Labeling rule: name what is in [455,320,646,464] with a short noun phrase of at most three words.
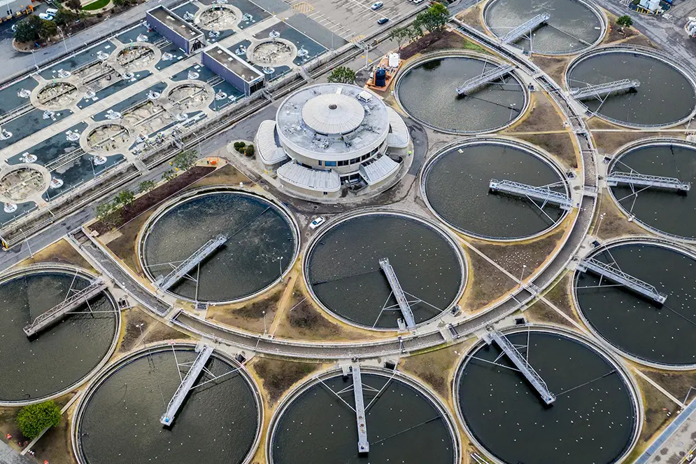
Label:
storage tank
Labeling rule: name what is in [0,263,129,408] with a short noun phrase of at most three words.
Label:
storage tank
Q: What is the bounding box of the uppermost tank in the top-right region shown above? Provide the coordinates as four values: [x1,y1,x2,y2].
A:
[482,0,607,58]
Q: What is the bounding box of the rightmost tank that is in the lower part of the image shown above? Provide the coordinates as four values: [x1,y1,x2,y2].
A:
[561,230,696,367]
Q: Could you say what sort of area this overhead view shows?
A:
industrial area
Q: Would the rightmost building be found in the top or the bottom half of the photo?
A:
top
